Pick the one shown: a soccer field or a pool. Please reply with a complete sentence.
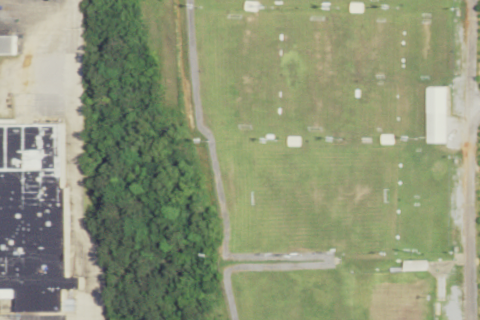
The image shows a soccer field.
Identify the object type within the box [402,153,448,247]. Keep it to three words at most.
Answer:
soccer field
